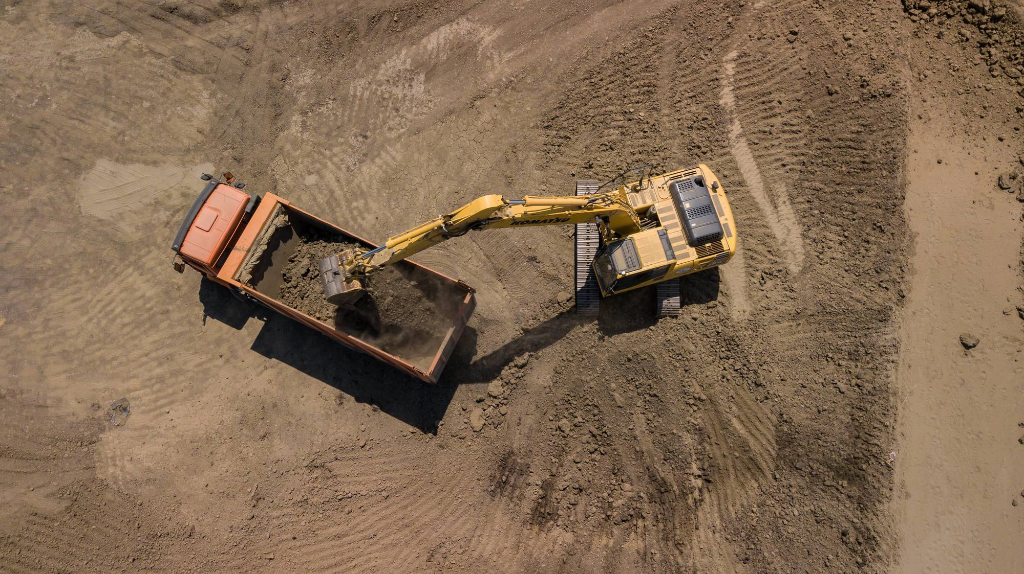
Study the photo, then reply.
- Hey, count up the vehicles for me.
2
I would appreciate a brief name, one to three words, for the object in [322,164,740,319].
work vehicle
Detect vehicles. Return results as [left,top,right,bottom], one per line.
[169,172,477,384]
[322,164,740,319]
